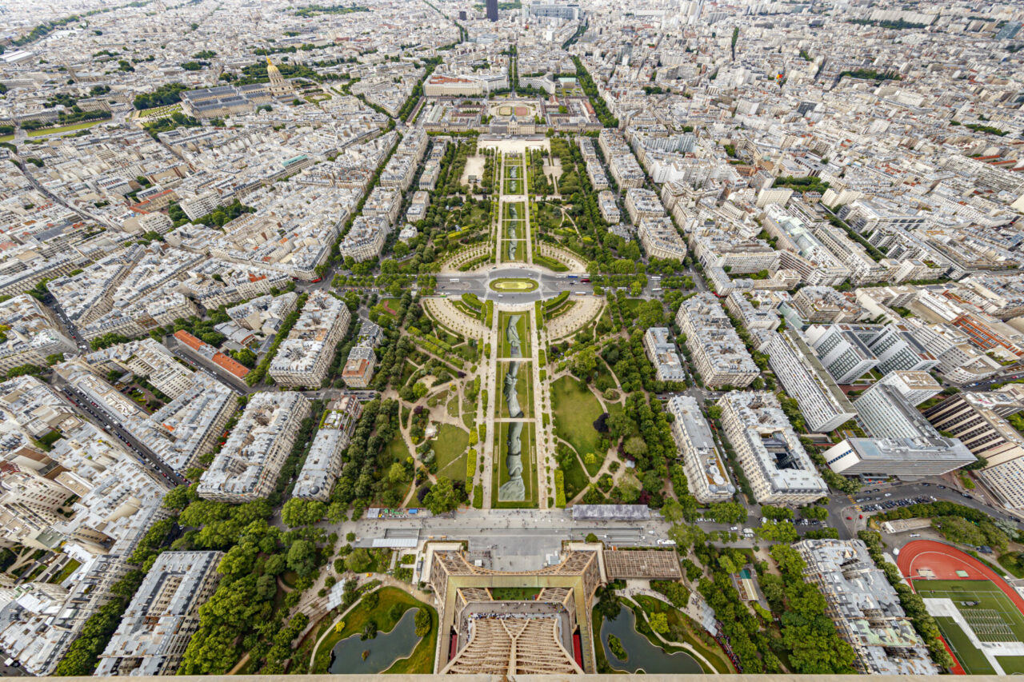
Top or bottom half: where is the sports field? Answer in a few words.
bottom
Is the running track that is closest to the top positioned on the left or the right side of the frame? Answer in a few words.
right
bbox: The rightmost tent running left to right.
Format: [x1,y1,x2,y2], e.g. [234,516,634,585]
[572,506,650,520]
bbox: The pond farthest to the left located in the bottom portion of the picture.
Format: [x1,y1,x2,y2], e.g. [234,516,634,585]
[329,608,419,674]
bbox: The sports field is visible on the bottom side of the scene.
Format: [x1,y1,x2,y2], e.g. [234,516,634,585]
[884,538,1024,674]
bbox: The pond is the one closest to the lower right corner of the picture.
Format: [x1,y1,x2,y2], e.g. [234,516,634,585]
[602,610,702,674]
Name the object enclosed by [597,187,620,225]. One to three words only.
house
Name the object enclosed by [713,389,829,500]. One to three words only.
building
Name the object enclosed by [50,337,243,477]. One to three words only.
building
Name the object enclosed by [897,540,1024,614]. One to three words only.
running track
